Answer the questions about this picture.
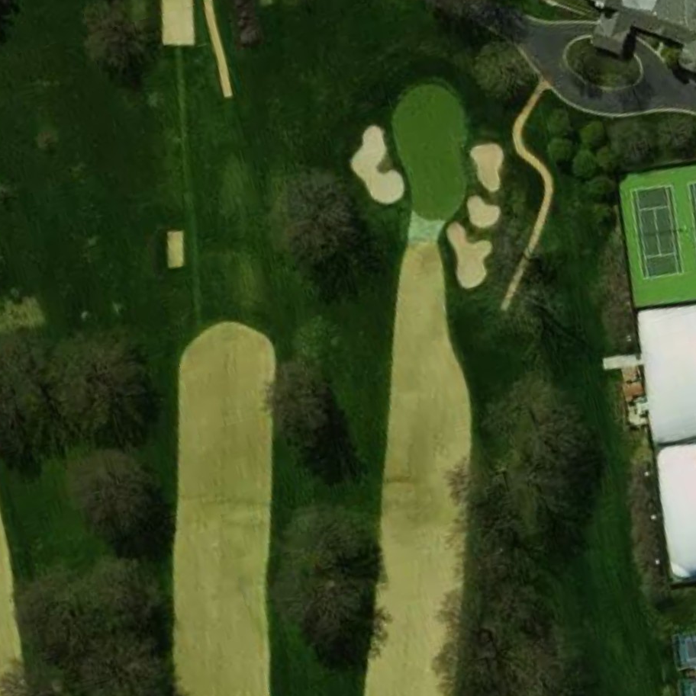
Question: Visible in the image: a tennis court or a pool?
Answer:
tennis court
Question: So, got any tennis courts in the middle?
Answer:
No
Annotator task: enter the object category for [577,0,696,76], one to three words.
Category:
building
